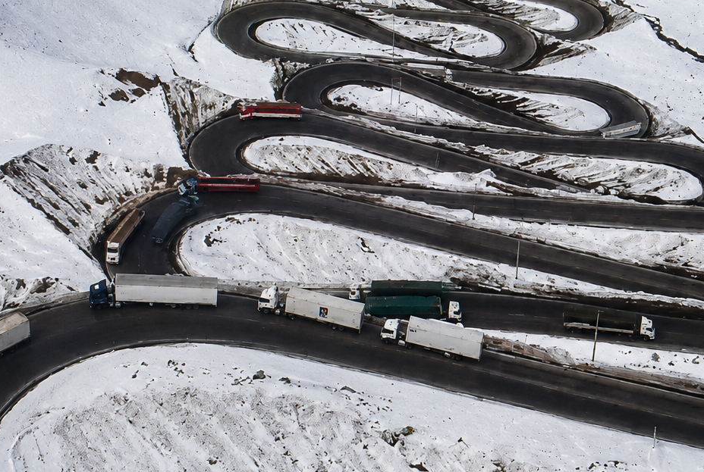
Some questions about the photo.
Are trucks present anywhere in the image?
Yes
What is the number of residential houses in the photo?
zero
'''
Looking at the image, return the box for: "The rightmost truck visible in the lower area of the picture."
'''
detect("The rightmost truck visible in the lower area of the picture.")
[563,305,657,343]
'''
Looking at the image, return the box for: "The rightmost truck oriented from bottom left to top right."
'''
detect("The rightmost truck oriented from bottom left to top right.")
[150,199,196,252]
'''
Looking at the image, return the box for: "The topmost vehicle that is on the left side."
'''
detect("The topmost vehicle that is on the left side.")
[238,101,301,122]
